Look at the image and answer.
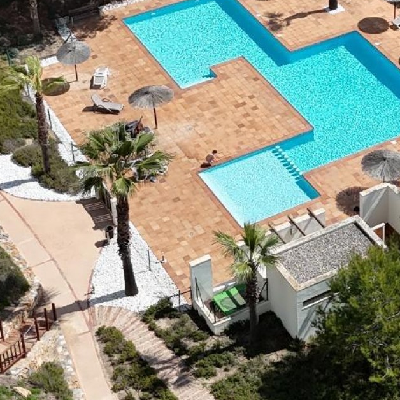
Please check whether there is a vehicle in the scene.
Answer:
No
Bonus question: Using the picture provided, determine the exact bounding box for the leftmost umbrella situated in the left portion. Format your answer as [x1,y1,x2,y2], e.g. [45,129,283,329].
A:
[55,42,92,81]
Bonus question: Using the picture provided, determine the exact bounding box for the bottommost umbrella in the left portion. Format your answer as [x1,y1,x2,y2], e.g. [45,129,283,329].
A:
[129,84,173,129]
